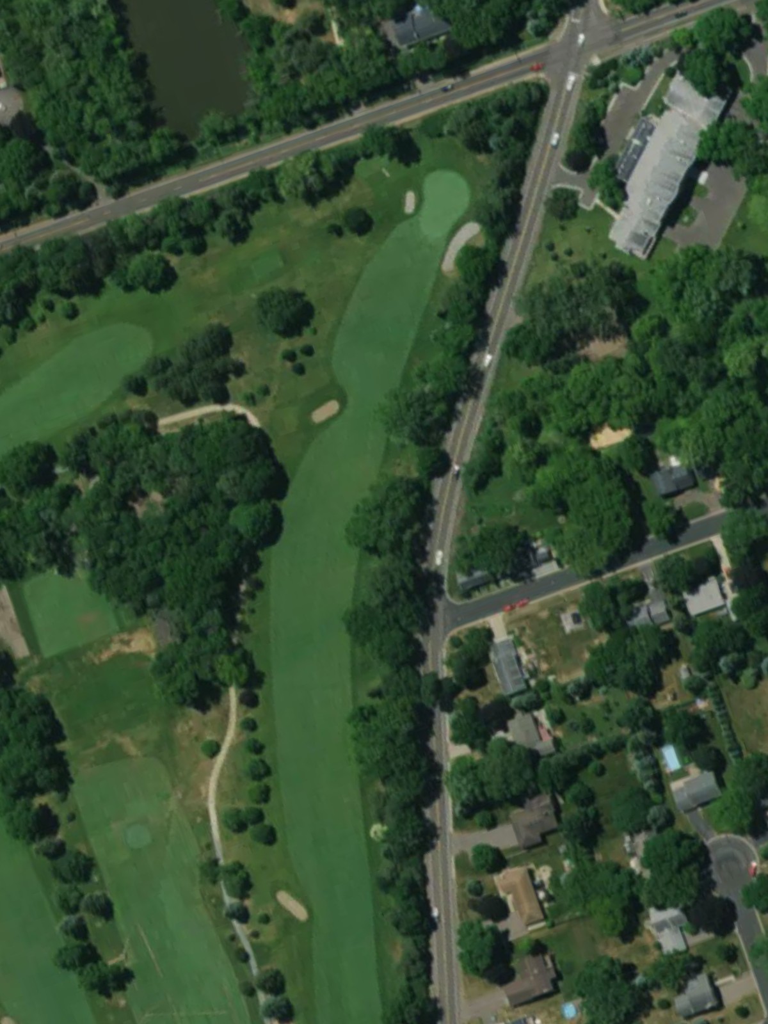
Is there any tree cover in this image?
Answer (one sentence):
Yes, tree cover can be seen from above here.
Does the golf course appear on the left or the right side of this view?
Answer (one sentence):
It is on the left.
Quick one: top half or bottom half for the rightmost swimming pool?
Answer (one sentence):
The rightmost swimming pool is in the bottom half of the image.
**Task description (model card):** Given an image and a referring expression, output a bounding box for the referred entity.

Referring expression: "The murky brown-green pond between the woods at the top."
[125,0,248,137]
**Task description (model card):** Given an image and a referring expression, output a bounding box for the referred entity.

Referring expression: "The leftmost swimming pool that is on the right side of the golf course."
[561,1003,577,1018]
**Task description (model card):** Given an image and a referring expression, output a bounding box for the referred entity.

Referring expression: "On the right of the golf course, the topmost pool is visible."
[661,743,681,772]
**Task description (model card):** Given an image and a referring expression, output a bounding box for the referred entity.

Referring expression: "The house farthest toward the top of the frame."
[395,1,449,44]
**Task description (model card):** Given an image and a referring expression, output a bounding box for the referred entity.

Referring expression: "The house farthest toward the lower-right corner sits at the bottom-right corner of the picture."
[676,974,717,1018]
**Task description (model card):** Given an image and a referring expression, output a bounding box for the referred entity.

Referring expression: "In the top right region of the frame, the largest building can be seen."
[611,72,728,259]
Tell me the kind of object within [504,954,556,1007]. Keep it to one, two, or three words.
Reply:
house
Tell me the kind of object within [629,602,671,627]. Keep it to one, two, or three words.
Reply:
house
